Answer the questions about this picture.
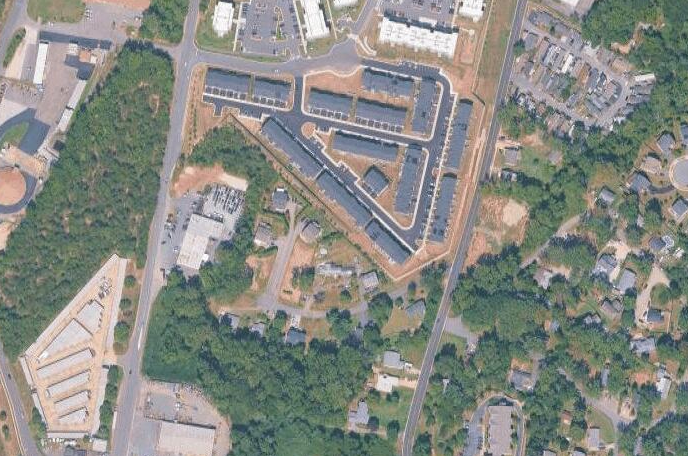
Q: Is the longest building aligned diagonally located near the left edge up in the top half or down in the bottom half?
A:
bottom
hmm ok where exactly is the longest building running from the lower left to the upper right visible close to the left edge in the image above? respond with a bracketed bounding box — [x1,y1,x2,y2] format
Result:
[25,255,118,357]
